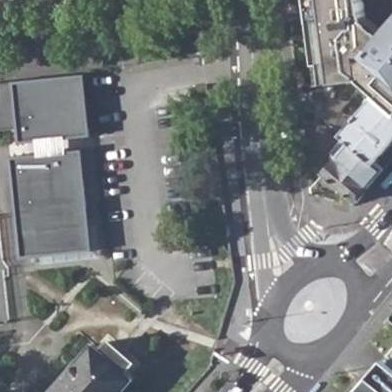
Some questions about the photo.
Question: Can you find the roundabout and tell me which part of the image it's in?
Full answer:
The roundabout is located in the bottom right region of the scene.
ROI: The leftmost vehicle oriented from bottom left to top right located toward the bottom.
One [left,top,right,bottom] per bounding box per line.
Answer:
[240,366,259,386]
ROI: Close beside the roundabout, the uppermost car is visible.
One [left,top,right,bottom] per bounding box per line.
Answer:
[378,211,392,230]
